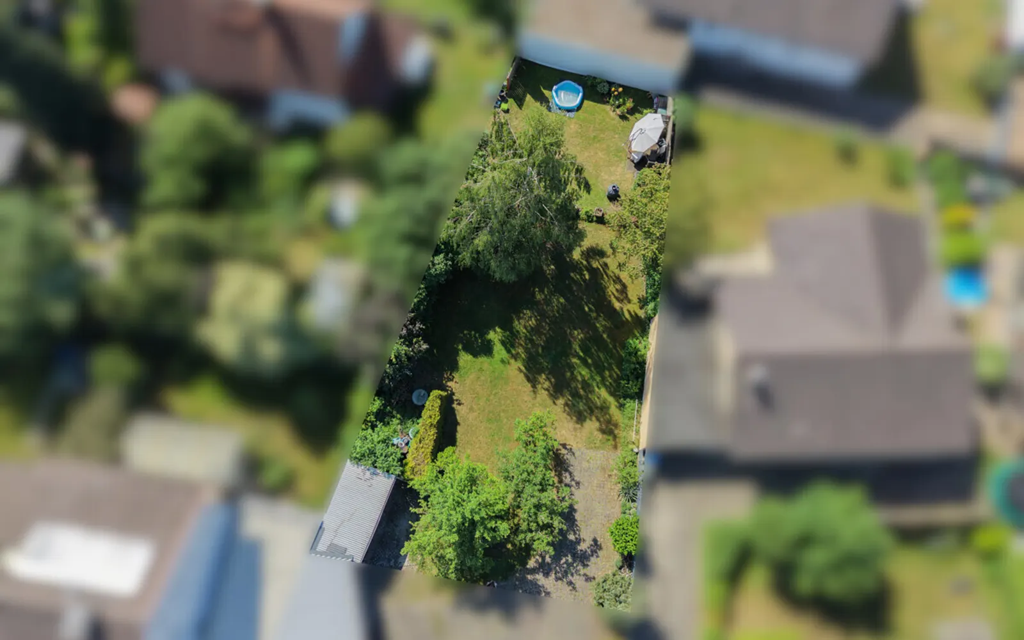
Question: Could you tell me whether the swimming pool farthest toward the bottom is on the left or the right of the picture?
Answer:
right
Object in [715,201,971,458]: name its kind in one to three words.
house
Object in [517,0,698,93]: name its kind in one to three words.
shed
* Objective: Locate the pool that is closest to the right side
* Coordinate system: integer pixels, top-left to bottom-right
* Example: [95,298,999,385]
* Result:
[936,264,987,309]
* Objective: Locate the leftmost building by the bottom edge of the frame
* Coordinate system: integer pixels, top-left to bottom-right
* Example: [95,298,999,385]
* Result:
[0,455,238,640]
